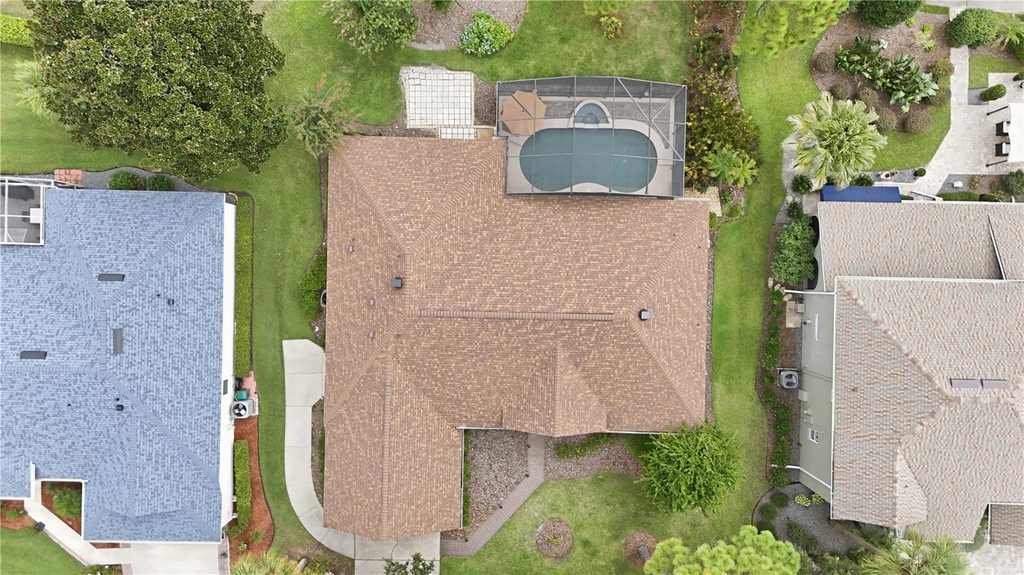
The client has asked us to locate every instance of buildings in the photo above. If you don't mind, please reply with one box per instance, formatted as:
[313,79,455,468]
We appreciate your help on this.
[772,201,1024,546]
[322,135,712,543]
[0,186,238,545]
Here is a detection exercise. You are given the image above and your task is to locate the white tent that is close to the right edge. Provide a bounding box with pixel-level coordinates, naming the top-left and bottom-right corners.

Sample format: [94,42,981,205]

[973,102,1024,169]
